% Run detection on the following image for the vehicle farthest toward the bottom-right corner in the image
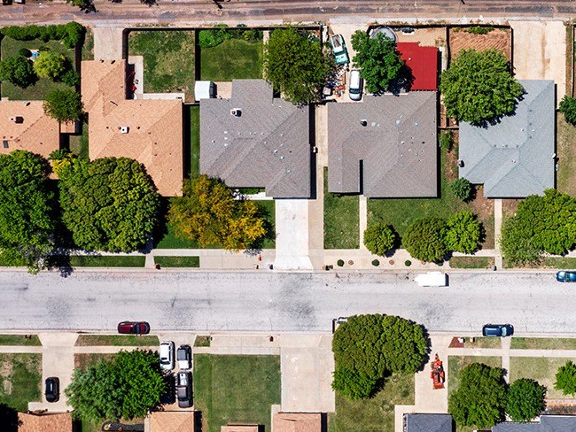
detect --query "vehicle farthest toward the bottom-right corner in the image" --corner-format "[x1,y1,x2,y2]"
[482,323,514,338]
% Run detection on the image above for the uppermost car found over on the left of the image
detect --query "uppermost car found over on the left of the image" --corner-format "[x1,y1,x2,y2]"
[119,321,152,336]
